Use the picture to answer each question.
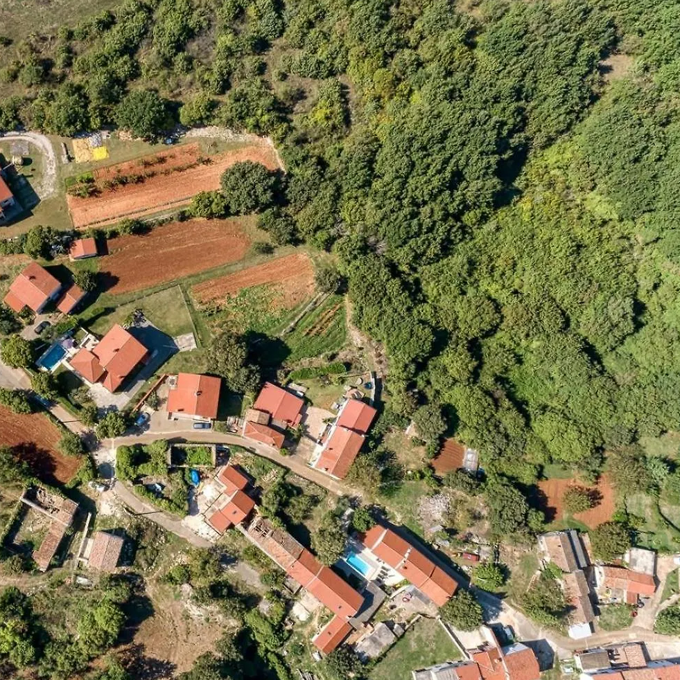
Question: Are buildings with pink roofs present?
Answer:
Yes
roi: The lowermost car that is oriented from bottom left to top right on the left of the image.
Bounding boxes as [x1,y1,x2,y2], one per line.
[134,410,150,428]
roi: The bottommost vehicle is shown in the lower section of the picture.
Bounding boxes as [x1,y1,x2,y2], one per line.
[502,623,518,644]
